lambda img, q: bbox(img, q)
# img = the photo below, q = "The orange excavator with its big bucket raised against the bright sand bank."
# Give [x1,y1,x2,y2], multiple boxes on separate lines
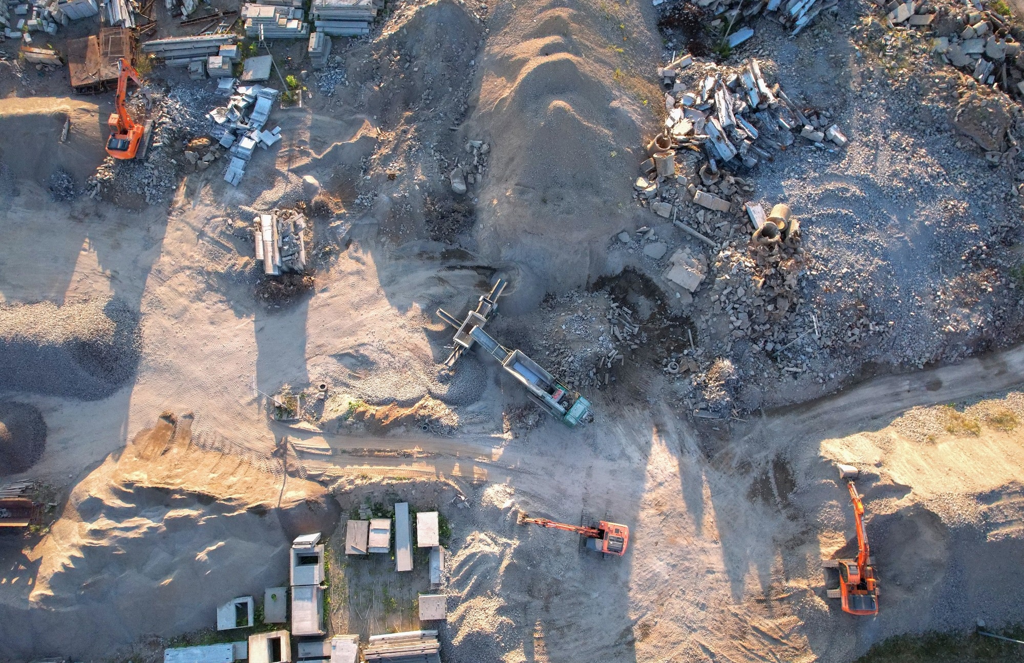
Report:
[821,473,883,612]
